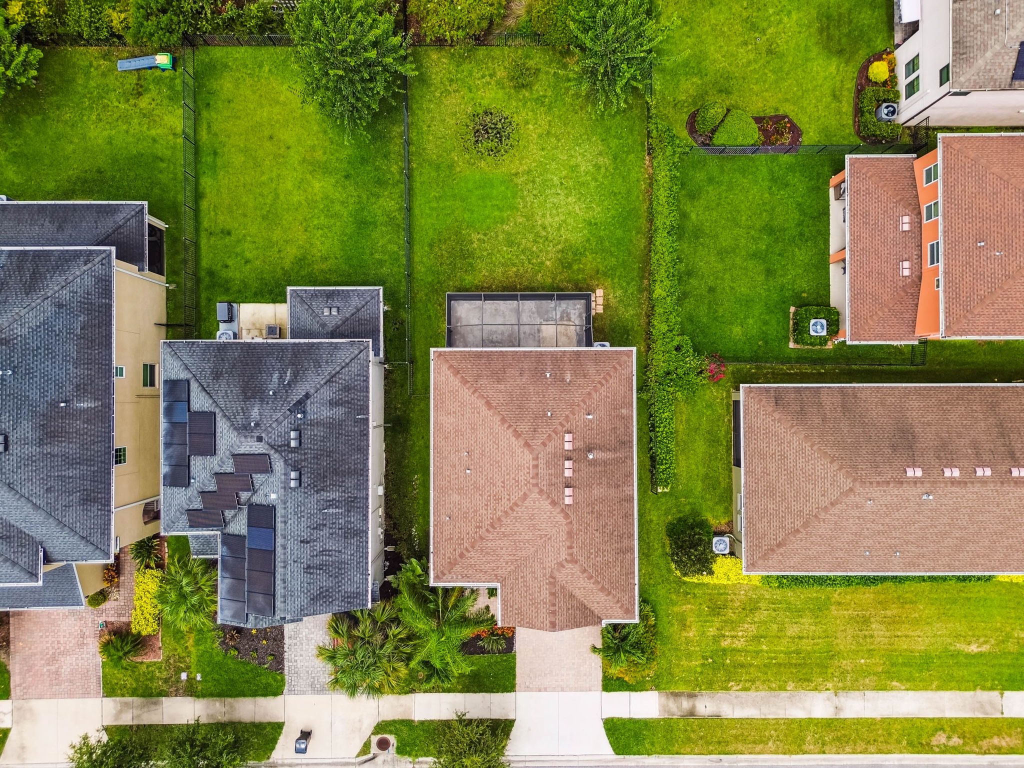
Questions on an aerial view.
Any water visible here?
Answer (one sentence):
No, there's no water in this view.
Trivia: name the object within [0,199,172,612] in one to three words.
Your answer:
house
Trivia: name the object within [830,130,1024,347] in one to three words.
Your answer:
house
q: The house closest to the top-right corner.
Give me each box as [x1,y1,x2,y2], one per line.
[894,0,1024,126]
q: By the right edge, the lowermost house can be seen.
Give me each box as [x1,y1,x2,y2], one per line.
[731,382,1024,577]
